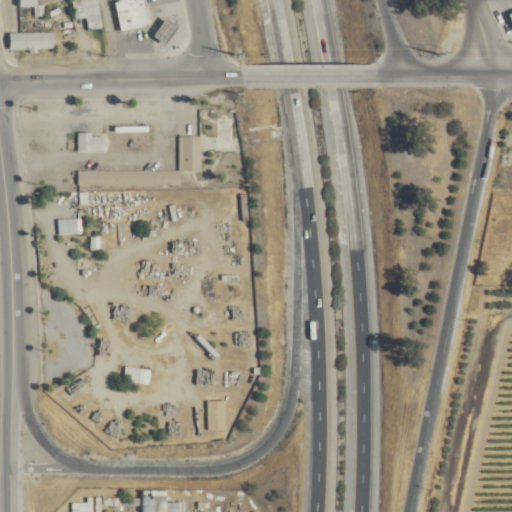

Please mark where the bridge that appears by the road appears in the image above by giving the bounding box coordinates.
[242,64,378,86]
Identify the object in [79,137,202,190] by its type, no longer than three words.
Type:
shed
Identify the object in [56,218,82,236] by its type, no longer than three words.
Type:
building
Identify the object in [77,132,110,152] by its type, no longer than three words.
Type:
house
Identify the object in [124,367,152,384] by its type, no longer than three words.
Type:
barn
